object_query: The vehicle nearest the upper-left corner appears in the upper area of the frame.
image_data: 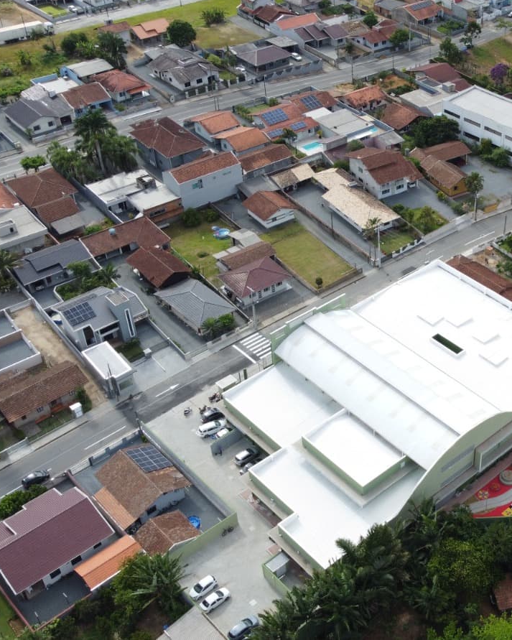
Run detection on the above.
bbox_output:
[0,19,52,42]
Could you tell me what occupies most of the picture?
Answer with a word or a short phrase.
buildings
